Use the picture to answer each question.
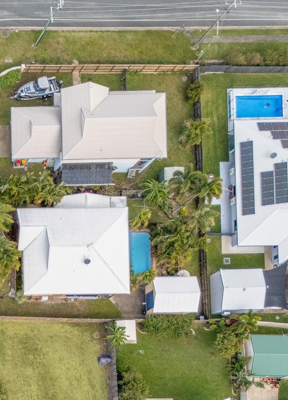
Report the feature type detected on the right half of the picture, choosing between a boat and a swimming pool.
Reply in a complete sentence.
You can see a swimming pool on the right half of the picture.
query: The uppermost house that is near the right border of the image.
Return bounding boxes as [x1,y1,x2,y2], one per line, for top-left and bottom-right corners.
[227,119,288,270]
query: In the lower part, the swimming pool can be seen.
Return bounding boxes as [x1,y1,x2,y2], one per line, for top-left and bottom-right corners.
[129,230,155,277]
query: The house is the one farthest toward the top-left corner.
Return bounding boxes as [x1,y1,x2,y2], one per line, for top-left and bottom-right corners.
[8,81,168,190]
